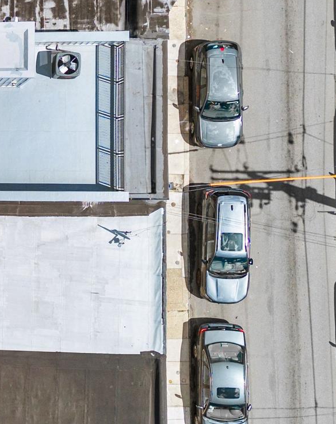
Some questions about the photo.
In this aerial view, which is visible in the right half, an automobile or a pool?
automobile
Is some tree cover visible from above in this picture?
No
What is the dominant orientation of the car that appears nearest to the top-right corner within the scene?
up and down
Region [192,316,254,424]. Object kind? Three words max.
car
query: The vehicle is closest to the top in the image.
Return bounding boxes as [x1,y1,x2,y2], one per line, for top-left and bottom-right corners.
[191,34,249,148]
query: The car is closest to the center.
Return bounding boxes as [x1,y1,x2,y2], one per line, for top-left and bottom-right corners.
[196,179,257,303]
